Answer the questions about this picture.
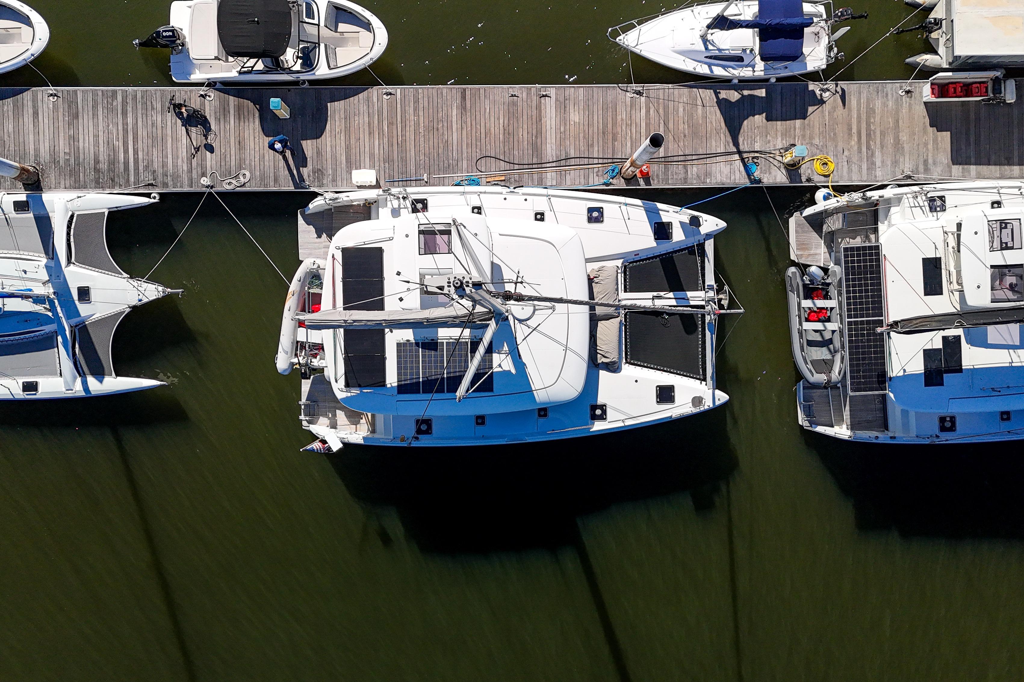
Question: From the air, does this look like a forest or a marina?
marina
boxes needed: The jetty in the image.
[0,78,1024,192]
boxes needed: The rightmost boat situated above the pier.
[894,0,1024,73]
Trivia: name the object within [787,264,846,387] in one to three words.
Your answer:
boat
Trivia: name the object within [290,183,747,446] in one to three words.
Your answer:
boat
